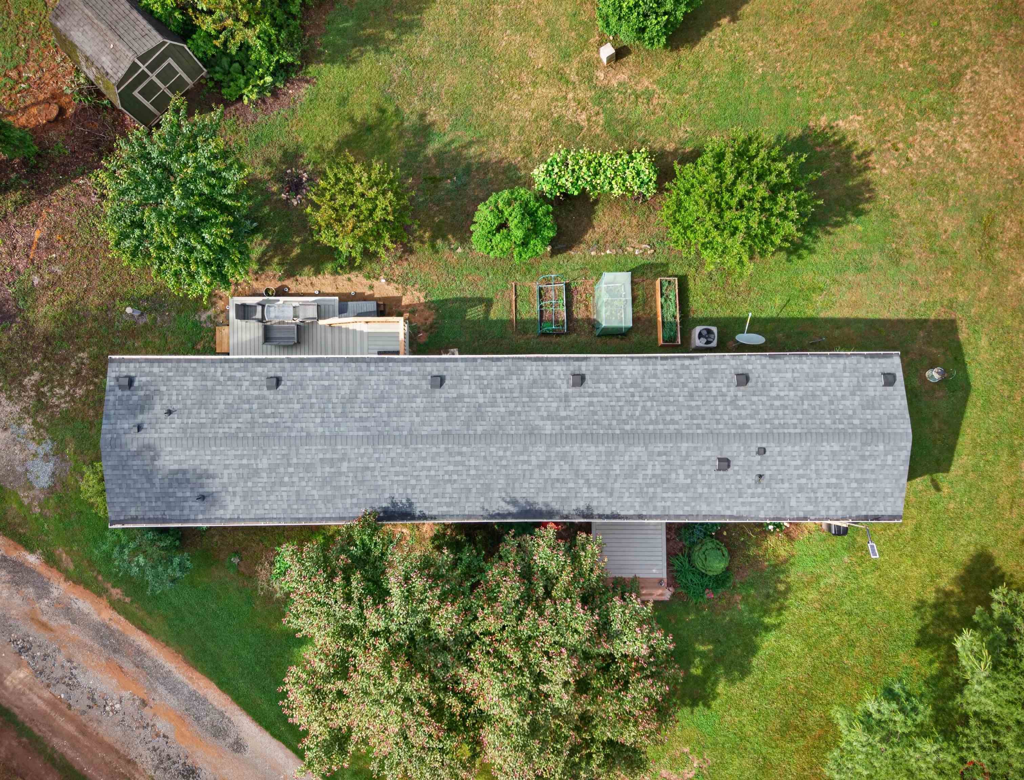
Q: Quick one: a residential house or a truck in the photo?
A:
residential house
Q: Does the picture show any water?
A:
No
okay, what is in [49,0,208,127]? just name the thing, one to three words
shed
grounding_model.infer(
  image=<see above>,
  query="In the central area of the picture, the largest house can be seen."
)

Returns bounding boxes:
[99,352,911,527]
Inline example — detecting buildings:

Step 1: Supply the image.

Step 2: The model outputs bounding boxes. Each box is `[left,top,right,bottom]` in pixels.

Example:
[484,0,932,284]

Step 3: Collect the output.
[49,0,208,127]
[99,352,911,527]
